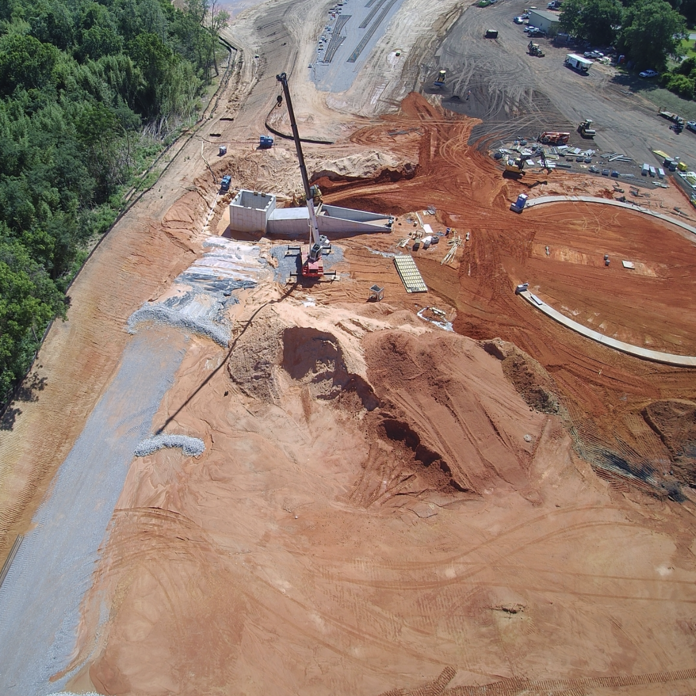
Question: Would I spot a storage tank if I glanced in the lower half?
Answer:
No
